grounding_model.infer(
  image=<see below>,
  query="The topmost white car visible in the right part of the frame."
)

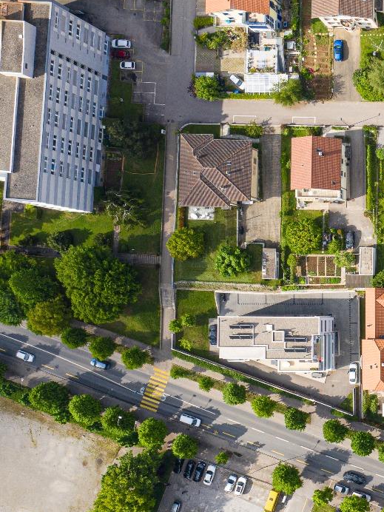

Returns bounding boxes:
[228,73,244,90]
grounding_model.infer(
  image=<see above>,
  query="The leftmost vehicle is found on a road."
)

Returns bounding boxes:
[14,348,38,363]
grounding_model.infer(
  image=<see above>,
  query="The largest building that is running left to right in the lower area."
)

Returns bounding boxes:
[217,316,342,371]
